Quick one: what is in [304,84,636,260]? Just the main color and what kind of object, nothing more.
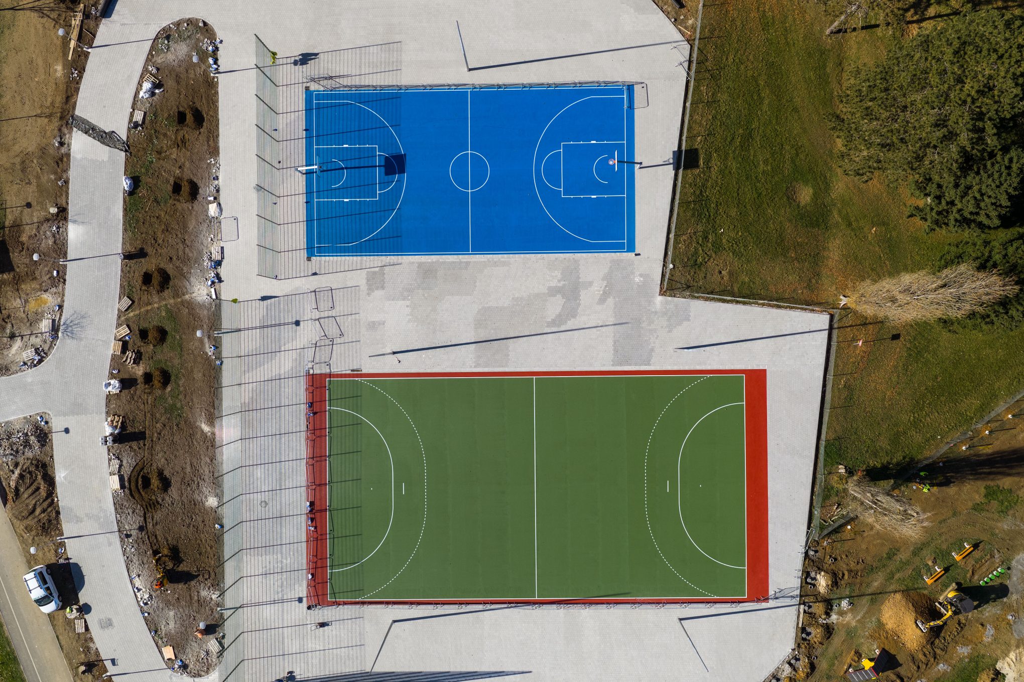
blue basketball court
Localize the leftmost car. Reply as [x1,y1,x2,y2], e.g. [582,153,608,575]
[20,566,61,617]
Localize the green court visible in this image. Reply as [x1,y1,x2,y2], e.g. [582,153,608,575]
[305,365,770,608]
